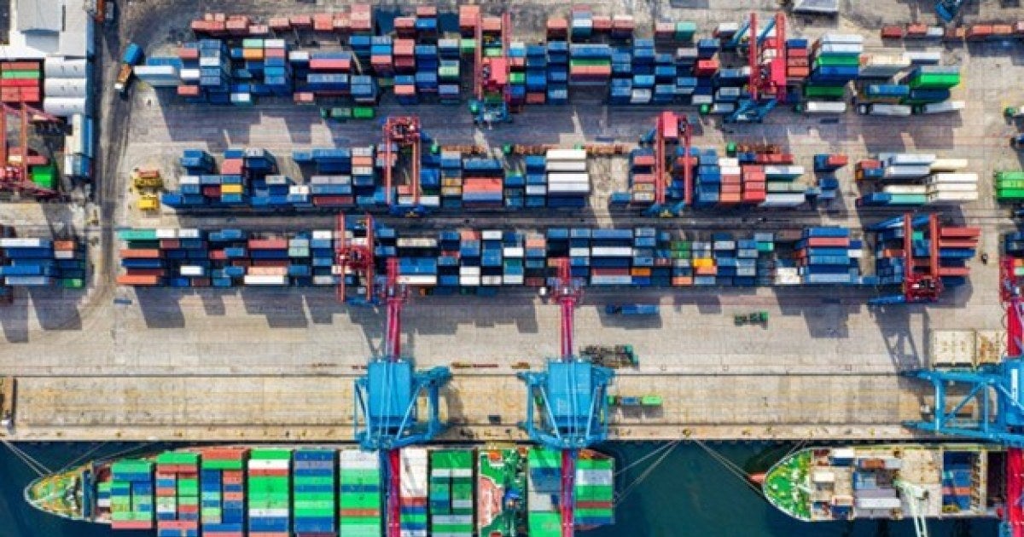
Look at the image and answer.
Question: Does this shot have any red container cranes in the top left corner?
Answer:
Yes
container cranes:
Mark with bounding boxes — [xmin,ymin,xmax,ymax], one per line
[642,112,693,219]
[726,12,785,125]
[354,258,452,537]
[518,258,607,537]
[869,208,941,320]
[383,113,430,220]
[336,205,387,303]
[0,93,68,199]
[889,255,1024,537]
[473,11,514,124]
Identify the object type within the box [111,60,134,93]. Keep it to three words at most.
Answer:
truck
